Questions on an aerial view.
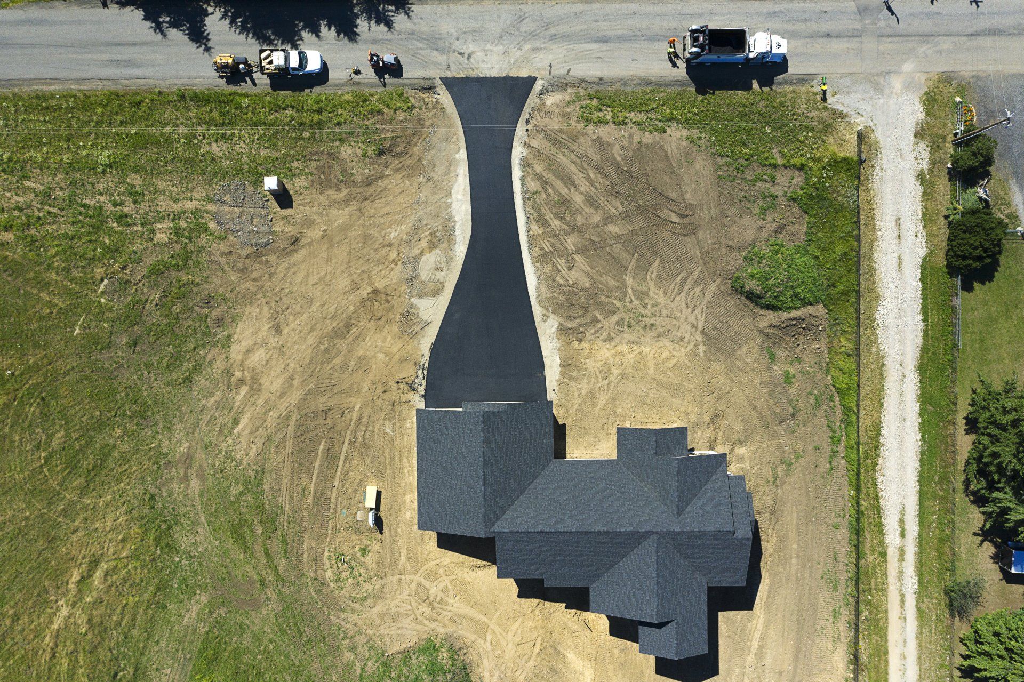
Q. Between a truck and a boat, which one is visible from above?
truck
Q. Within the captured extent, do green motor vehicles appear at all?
No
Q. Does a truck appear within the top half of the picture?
Yes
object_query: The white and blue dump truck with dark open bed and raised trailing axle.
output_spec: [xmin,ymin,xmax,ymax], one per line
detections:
[681,26,787,65]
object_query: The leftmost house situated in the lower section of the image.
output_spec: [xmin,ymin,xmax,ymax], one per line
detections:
[416,401,756,659]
